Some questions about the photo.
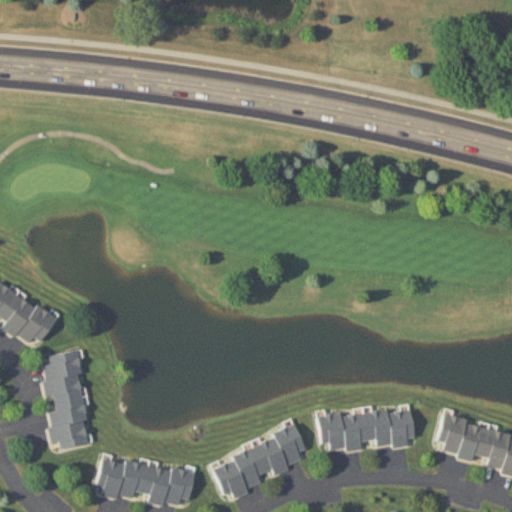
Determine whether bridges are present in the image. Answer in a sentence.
No, the photo shows no bridge.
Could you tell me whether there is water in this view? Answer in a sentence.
Yes, water can be seen from above here.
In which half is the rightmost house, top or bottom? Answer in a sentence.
Seen from above, the rightmost house lies in the bottom half of the view.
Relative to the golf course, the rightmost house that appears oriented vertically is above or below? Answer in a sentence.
In the image, the rightmost house that appears oriented vertically sits below the golf course.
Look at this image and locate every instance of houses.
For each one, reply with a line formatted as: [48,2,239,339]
[0,282,58,346]
[312,405,414,453]
[42,352,94,452]
[204,422,300,498]
[96,455,190,508]
[434,412,512,478]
